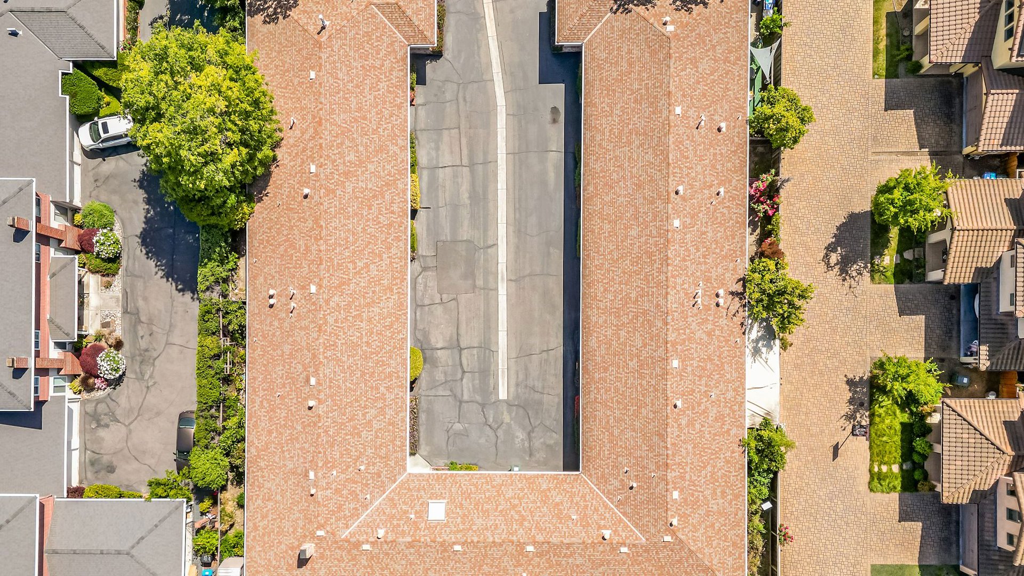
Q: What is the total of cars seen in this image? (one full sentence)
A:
In total, 2 cars can be seen.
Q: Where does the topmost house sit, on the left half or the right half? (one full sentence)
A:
The topmost house sits on the right side.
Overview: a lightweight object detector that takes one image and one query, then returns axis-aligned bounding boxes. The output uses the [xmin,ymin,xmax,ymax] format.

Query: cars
[170,410,198,471]
[79,114,138,150]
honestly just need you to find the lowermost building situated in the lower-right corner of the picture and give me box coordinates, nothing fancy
[923,399,1024,576]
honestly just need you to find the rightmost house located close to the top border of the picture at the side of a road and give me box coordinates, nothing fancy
[913,0,1024,155]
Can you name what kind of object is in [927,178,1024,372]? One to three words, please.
house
